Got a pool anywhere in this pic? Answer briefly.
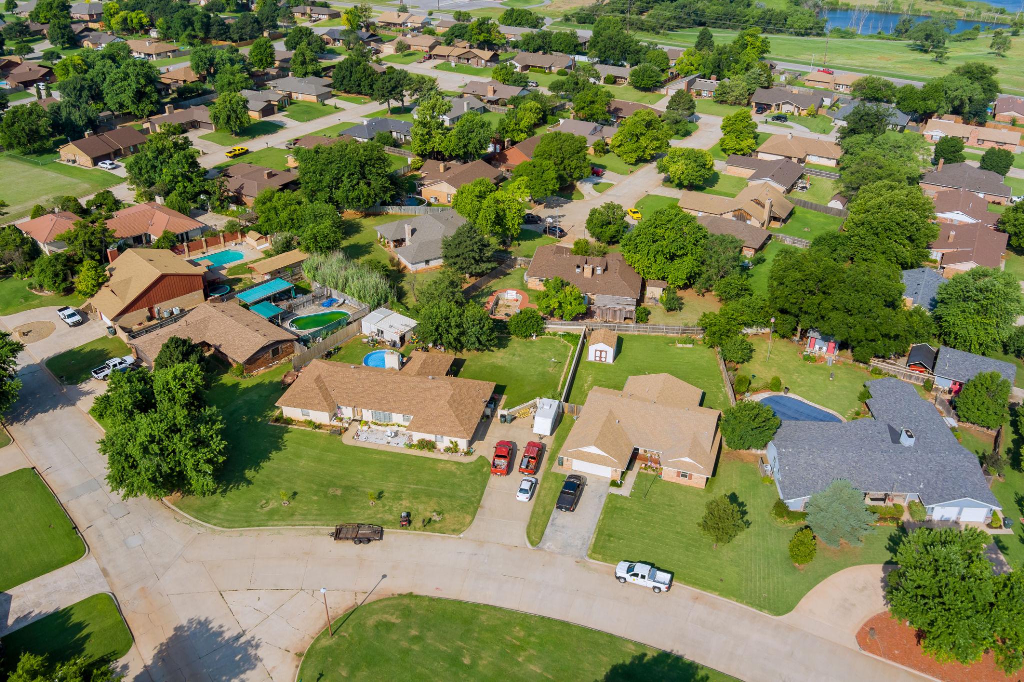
Yes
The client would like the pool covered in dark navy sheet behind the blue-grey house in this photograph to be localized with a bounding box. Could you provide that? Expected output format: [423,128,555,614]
[741,391,847,421]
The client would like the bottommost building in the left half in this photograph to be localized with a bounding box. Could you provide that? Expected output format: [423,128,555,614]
[275,344,498,451]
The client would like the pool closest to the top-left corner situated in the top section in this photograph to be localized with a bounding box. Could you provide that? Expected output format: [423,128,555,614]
[193,243,272,281]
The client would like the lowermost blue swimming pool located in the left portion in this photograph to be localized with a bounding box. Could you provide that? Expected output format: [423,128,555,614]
[364,351,387,365]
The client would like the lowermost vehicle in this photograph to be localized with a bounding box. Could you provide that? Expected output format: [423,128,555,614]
[616,563,674,595]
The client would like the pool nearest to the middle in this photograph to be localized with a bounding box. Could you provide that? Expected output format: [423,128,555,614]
[479,290,541,326]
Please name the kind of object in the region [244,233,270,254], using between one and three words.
shed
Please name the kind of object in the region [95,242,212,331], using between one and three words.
house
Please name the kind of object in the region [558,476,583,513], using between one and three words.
truck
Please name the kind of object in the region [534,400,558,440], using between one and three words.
trailer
